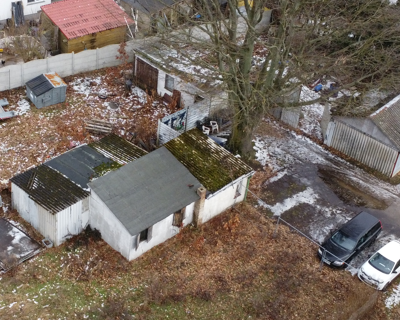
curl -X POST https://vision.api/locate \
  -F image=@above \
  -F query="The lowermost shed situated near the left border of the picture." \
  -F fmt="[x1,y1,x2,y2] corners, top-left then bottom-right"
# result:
[9,134,148,244]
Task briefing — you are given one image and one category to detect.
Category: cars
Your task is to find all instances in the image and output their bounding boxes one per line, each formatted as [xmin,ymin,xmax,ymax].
[316,210,386,271]
[357,236,400,290]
